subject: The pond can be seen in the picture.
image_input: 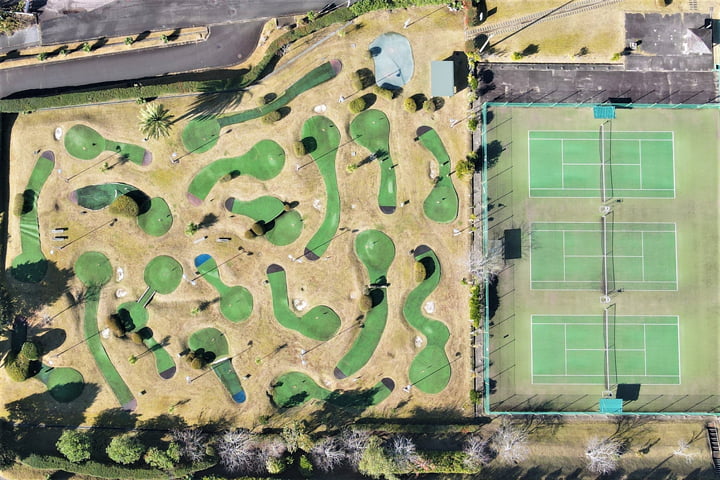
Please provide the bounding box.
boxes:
[367,31,415,89]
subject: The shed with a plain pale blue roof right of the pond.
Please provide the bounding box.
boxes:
[431,61,454,96]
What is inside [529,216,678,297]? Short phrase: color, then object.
green tennis court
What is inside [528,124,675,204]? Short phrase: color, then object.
green tennis court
